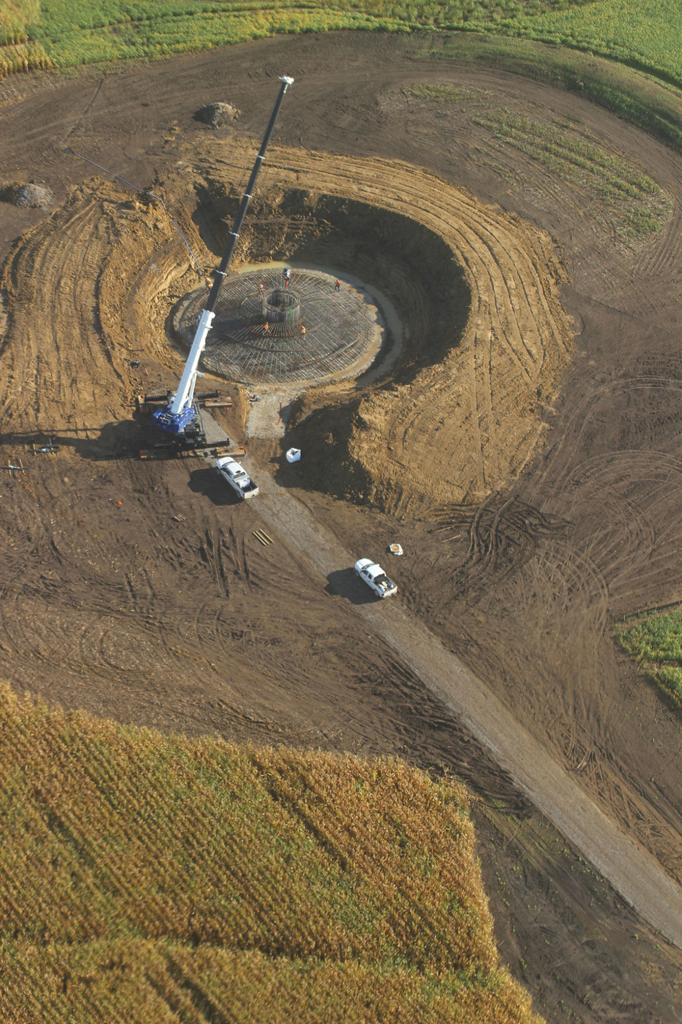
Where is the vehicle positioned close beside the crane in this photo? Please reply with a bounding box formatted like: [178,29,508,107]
[213,455,262,501]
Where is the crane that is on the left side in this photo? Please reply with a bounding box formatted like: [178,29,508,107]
[138,73,294,458]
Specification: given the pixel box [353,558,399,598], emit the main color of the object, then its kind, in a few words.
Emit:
white truck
